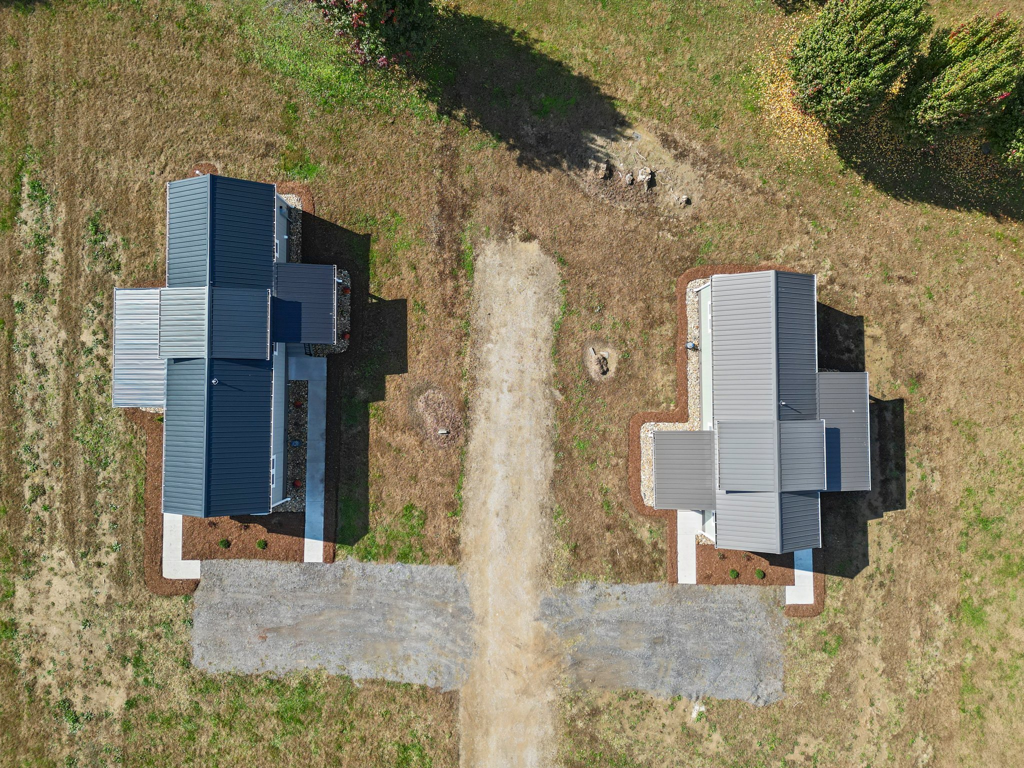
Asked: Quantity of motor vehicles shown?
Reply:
0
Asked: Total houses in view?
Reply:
2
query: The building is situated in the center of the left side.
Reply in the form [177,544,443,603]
[113,173,351,517]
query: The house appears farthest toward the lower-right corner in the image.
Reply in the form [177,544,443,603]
[639,270,870,554]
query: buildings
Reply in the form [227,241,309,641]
[639,270,870,554]
[113,173,351,517]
